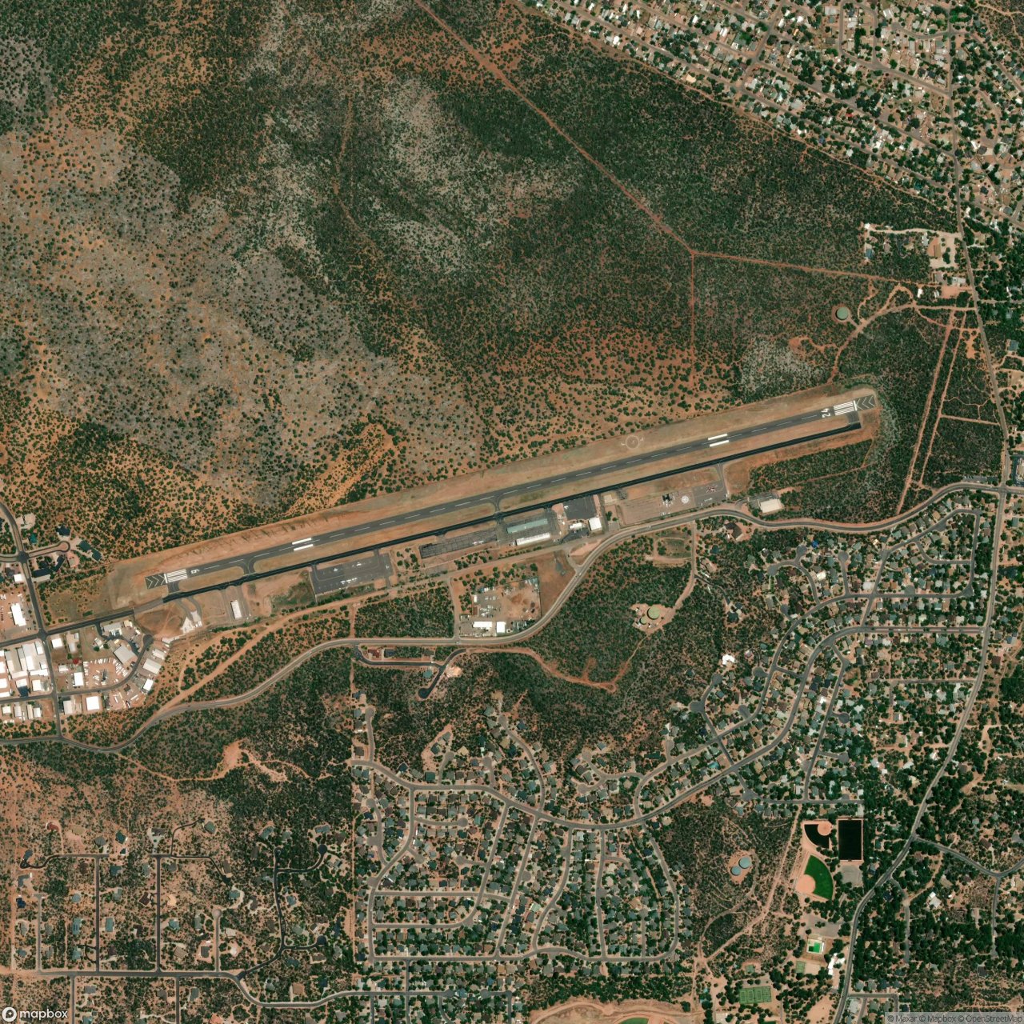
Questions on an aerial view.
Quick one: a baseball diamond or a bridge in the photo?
baseball diamond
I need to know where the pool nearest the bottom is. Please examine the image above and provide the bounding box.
[807,939,823,954]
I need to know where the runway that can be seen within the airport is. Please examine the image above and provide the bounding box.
[147,396,873,585]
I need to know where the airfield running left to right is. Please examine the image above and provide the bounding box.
[145,394,876,633]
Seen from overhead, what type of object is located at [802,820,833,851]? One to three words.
baseball field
